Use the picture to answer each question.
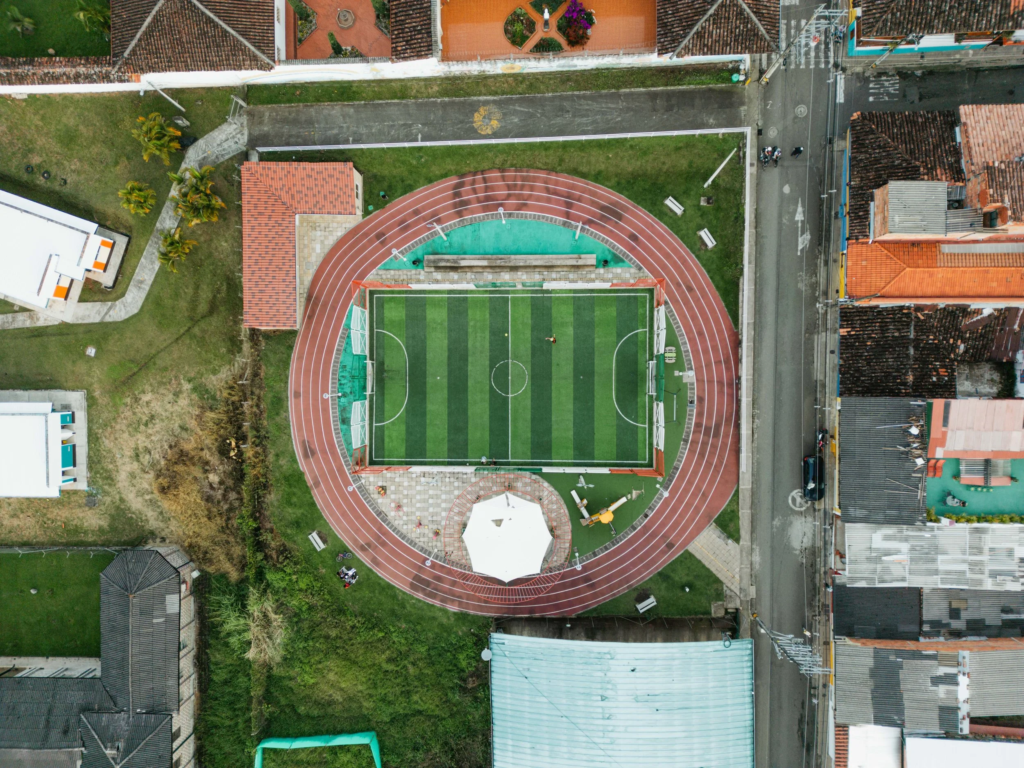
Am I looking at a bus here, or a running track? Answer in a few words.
running track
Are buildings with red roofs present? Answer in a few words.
Yes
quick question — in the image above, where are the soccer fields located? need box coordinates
[366,286,657,470]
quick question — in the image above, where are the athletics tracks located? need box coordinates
[286,167,740,617]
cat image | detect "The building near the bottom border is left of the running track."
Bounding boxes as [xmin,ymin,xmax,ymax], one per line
[0,548,195,768]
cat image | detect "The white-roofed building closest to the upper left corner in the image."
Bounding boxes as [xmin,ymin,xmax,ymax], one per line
[0,190,131,308]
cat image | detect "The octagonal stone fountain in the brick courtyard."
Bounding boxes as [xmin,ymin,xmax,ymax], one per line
[336,8,354,28]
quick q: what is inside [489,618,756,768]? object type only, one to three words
building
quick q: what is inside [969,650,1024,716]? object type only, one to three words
shed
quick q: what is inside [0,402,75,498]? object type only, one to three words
building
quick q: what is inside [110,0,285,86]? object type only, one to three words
house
